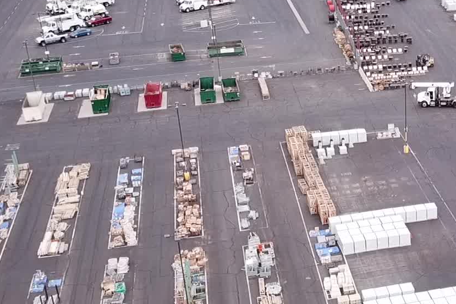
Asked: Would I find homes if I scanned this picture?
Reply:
No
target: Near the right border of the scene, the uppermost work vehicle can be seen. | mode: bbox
[412,52,438,68]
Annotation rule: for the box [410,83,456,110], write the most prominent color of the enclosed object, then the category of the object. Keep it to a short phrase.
white truck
